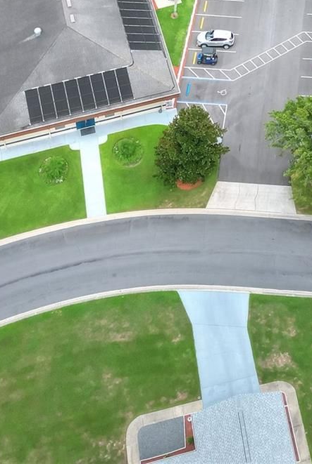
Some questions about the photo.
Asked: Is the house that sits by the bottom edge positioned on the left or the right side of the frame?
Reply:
right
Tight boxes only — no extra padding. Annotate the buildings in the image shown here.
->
[0,0,185,158]
[145,392,294,464]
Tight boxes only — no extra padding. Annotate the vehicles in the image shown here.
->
[197,46,219,66]
[197,31,236,49]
